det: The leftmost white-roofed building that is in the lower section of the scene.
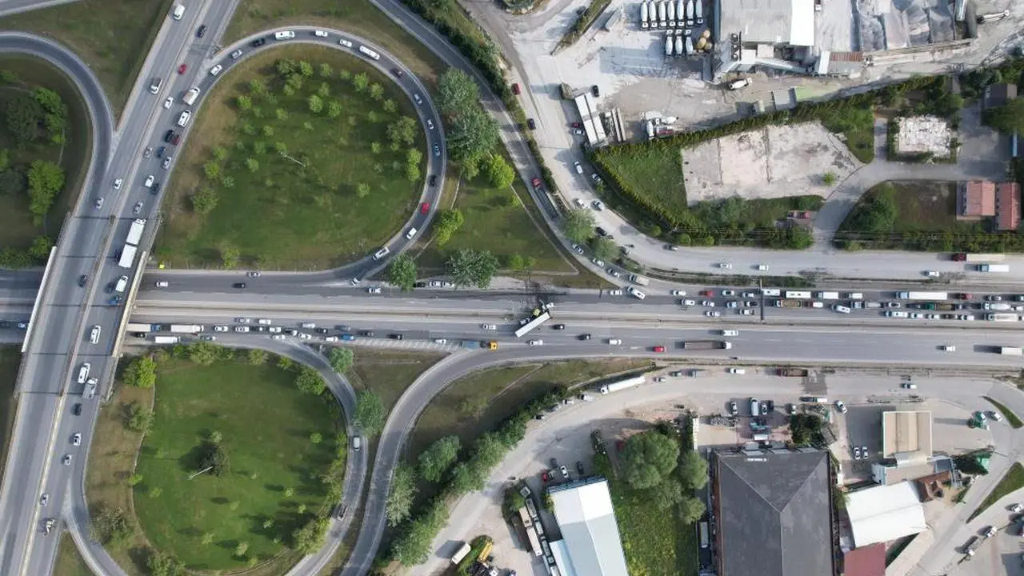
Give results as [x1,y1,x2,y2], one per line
[549,475,627,576]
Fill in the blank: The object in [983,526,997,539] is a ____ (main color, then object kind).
white vehicle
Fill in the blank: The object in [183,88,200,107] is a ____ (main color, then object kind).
white vehicle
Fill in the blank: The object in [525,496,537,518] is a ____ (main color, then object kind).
gray vehicle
